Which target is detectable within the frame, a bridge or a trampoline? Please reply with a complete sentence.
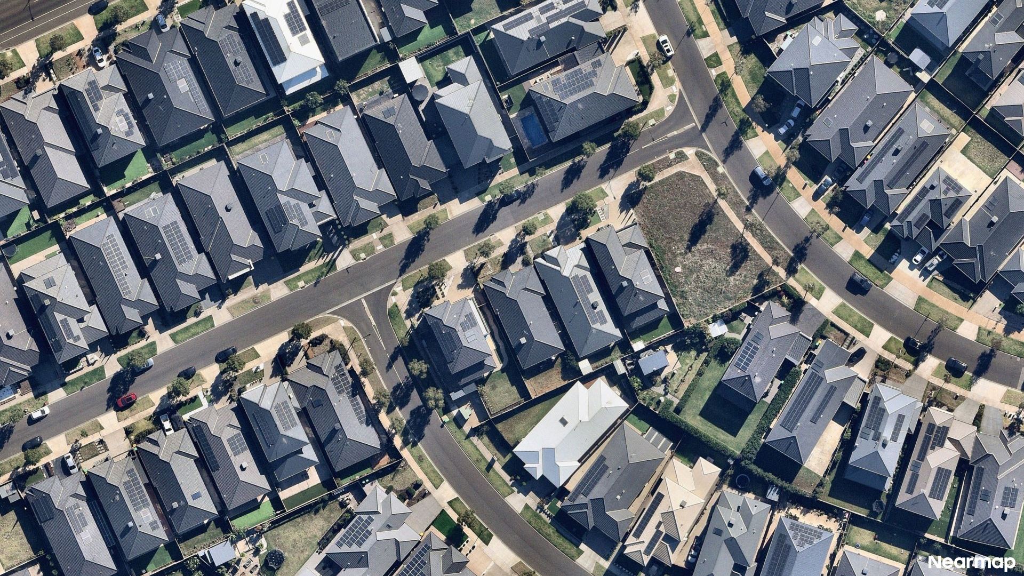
Of the two, only a trampoline appears.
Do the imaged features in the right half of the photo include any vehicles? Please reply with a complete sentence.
Yes, looking in the right half of the photo, one can make out a vehicle.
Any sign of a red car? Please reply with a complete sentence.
Yes, a red car appears in the view.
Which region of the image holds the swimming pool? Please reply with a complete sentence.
You can find the swimming pool in the top area of the picture.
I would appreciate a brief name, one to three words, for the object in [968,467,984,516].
solar array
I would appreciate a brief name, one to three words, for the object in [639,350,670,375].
shed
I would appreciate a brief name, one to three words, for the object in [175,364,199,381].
car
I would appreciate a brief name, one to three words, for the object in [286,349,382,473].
house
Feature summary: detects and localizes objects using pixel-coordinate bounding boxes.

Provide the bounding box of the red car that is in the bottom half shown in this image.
[113,391,140,410]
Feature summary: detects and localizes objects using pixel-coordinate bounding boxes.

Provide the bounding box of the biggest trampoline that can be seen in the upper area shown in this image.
[412,84,428,100]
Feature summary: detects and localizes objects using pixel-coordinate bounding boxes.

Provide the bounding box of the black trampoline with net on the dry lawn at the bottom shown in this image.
[266,550,284,568]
